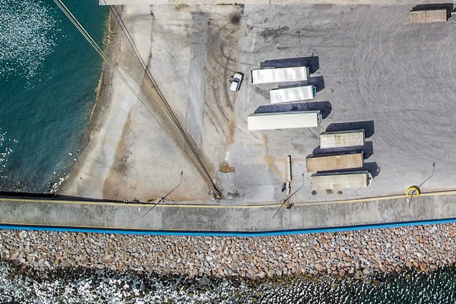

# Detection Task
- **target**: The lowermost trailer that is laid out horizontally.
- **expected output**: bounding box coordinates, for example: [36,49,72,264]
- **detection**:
[311,168,372,190]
